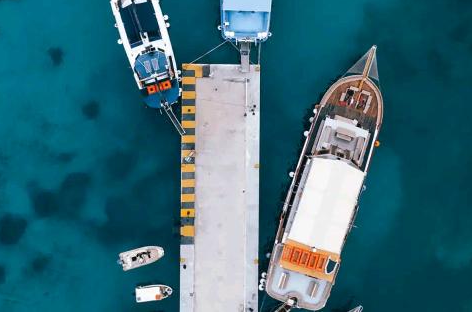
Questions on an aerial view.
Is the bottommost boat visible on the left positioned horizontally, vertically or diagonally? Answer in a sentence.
From this overhead view, the bottommost boat visible on the left appears to run horizontally.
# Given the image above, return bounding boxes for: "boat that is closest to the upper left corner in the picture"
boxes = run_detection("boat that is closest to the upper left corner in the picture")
[111,0,186,136]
